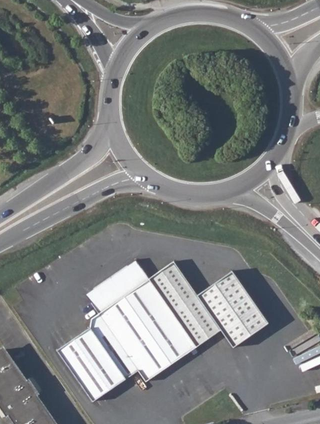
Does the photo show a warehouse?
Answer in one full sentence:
Yes, there's a warehouse down there.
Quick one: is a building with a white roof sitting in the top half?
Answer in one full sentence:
No, looking in the top half, there is no building with a white roof.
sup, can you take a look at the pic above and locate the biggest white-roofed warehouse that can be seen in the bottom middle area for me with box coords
[58,260,222,402]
